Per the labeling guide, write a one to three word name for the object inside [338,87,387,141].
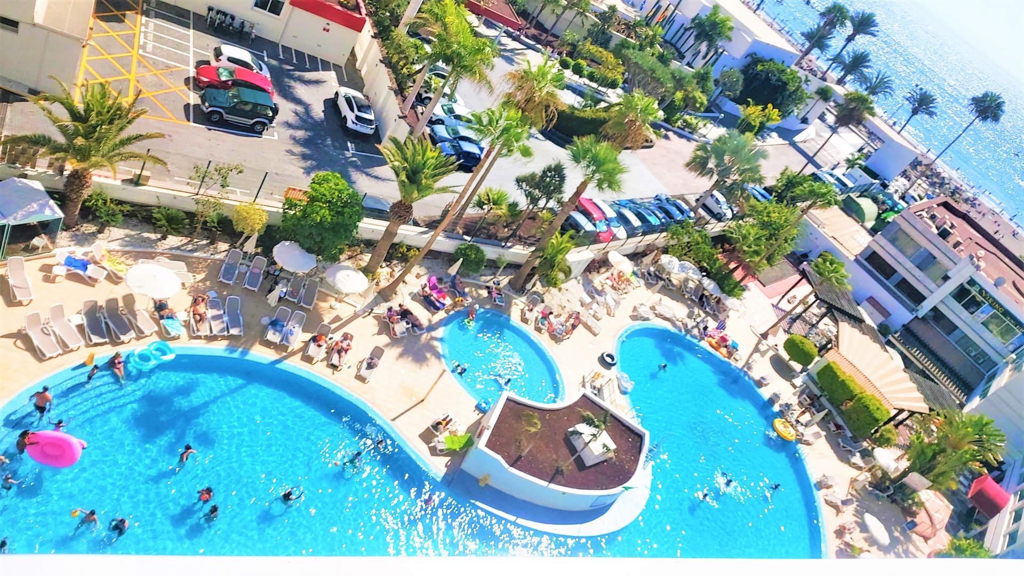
car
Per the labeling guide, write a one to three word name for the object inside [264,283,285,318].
umbrella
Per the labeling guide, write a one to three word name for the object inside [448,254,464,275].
umbrella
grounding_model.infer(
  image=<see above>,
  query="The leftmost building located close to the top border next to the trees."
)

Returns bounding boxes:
[0,0,102,99]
